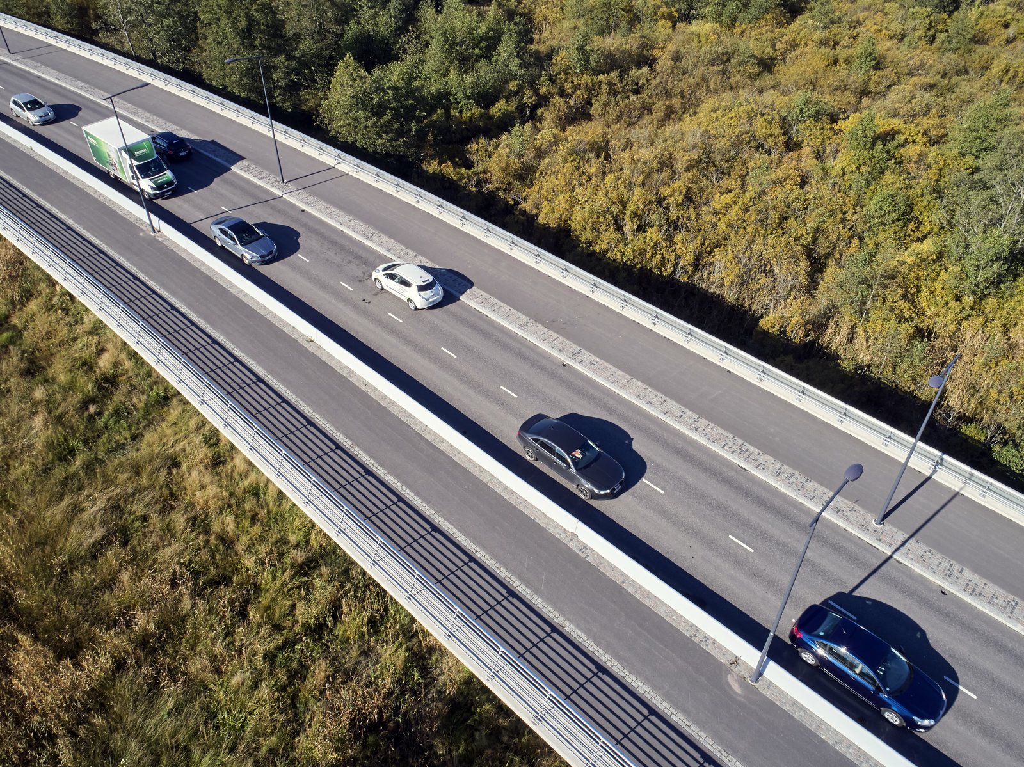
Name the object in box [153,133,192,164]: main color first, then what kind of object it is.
black car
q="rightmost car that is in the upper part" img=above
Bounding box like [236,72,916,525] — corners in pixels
[374,262,442,310]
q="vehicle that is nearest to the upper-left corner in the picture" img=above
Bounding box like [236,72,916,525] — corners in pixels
[9,92,55,126]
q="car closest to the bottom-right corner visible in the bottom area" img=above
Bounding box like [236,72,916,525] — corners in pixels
[791,603,945,730]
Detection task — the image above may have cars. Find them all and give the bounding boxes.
[9,92,55,126]
[374,262,442,310]
[153,133,192,164]
[791,603,945,730]
[518,413,623,500]
[210,216,278,265]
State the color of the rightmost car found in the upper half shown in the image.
white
